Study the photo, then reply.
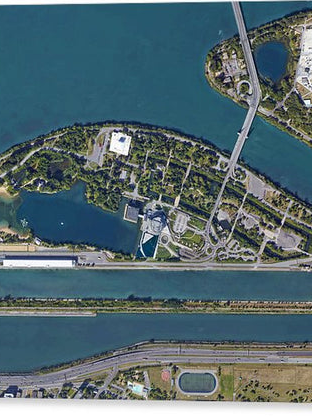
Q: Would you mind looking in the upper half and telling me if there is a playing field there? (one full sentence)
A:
No, no playing field can be made out in the upper half.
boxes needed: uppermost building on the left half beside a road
[109,132,131,156]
